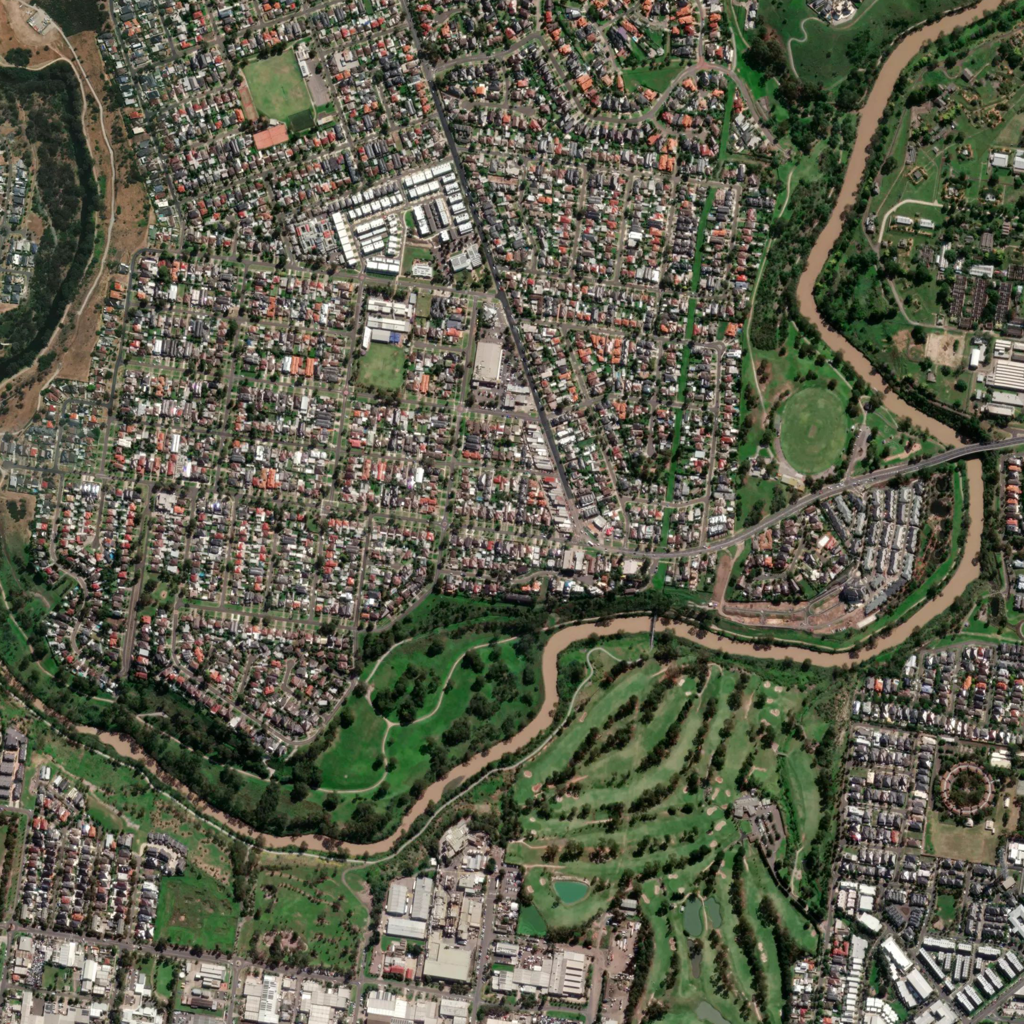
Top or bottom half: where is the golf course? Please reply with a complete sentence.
It is in the bottom half that the golf course appears.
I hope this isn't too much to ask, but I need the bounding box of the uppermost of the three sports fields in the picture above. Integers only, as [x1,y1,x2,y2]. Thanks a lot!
[244,49,314,121]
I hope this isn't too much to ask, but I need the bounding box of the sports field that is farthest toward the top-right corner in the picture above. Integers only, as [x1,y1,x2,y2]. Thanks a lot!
[779,387,849,476]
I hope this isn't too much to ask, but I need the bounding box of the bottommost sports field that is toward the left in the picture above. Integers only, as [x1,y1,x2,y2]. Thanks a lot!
[357,344,405,389]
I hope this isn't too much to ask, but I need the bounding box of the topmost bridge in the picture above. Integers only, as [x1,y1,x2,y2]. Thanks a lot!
[913,435,1024,472]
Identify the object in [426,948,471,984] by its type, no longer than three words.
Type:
building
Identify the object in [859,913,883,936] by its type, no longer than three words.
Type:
building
